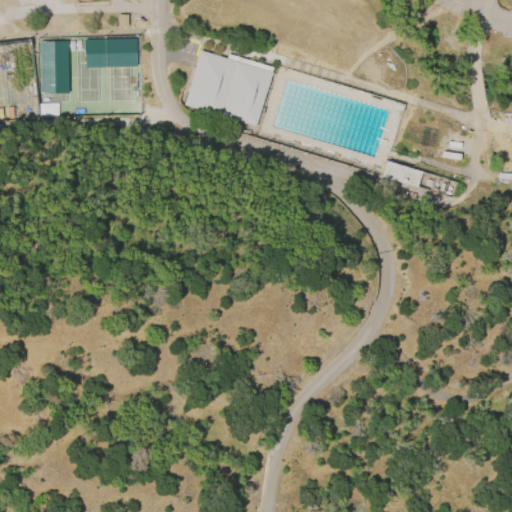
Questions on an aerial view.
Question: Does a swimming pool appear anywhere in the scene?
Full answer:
Yes, the photo shows a swimming pool.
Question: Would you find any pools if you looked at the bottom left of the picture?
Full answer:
No, no pool is visible at the bottom left of the picture.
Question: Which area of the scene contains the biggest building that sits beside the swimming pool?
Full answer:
Look in the top portion of the view to spot the biggest building that sits beside the swimming pool.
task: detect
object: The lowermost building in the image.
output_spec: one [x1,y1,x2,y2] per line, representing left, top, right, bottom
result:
[383,160,424,188]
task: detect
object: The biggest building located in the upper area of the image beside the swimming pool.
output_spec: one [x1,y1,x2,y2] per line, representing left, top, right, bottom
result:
[187,50,274,127]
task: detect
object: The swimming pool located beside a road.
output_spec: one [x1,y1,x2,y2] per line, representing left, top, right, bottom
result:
[256,67,408,173]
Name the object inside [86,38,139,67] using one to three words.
building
